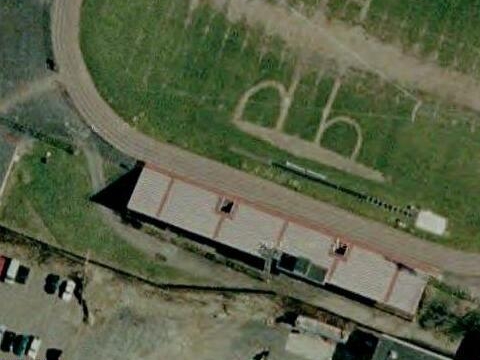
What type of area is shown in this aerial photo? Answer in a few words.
sports ground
